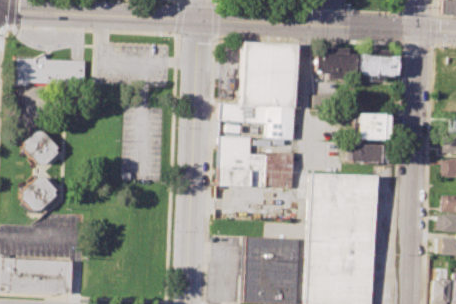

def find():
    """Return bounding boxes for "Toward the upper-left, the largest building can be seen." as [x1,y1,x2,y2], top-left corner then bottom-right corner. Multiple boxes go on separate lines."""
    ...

[12,54,85,88]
